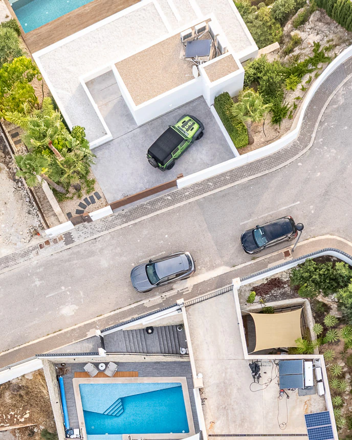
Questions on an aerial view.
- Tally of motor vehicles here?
three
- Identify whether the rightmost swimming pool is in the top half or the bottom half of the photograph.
bottom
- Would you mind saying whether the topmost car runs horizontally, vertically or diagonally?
diagonally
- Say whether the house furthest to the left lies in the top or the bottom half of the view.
top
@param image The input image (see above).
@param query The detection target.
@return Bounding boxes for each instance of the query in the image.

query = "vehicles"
[145,111,206,174]
[130,249,197,293]
[238,214,301,255]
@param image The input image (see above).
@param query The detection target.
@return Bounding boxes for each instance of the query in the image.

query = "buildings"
[33,0,258,156]
[183,287,340,440]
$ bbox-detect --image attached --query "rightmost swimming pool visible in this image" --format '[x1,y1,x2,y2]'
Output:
[73,378,194,440]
